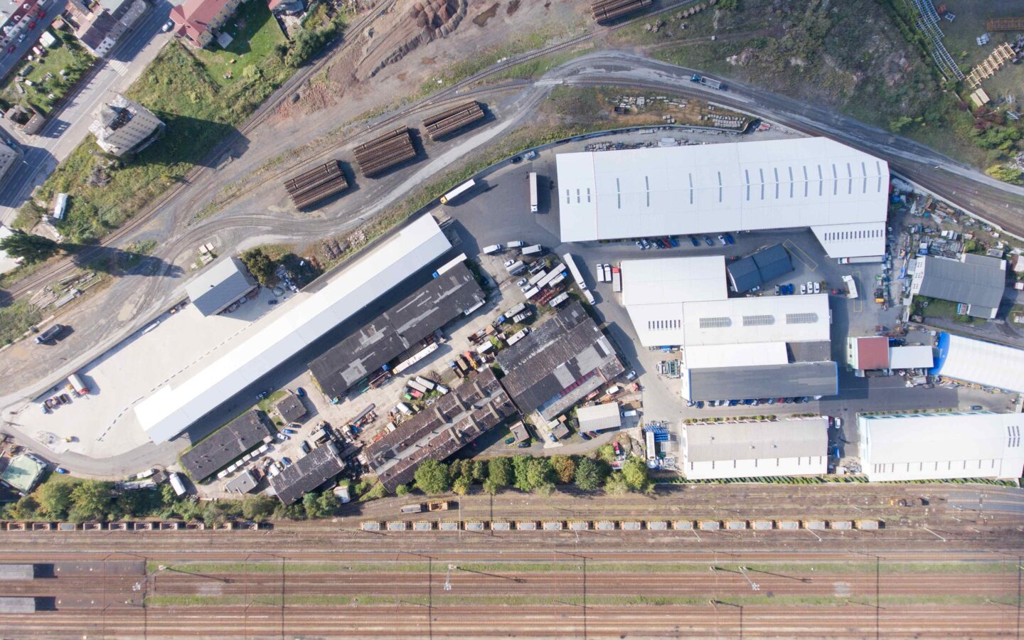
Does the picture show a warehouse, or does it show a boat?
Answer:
warehouse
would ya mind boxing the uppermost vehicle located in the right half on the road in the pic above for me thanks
[687,73,723,89]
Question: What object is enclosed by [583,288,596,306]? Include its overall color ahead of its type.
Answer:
white vehicle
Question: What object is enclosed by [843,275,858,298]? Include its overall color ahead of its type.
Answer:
white vehicle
